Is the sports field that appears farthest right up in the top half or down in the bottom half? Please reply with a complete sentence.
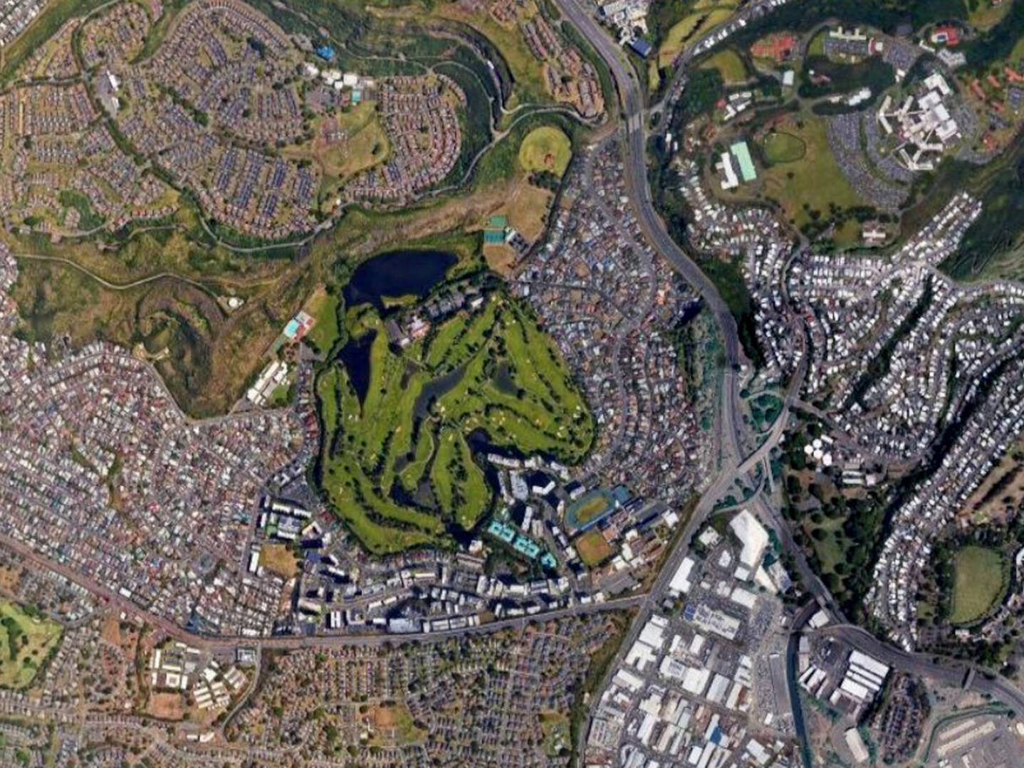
The bottom half of the photo is where the sports field that appears farthest right is.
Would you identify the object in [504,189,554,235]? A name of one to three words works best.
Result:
sports field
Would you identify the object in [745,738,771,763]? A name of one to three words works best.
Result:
building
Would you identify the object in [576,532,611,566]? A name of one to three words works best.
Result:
sports field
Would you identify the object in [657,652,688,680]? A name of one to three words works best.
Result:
building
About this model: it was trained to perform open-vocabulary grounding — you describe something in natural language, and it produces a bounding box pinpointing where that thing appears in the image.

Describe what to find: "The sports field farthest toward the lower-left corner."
[149,694,185,719]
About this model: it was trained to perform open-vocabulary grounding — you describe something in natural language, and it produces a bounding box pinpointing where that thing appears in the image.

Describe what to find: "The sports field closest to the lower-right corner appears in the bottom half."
[951,547,1003,622]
